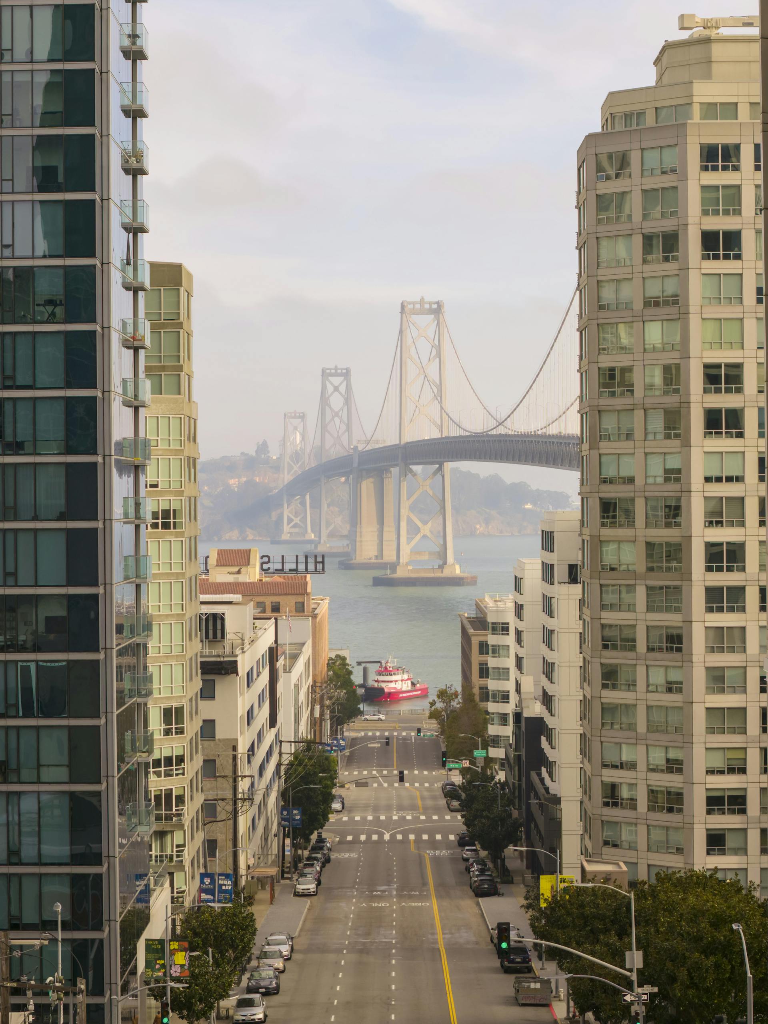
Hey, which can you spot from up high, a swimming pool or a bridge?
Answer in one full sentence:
Visible in the photo is a bridge.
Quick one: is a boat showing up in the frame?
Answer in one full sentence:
Yes, a boat can be made out from above.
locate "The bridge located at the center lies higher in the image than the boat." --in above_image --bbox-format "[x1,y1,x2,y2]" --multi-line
[268,250,605,675]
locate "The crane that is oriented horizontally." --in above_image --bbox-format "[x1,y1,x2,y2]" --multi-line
[680,12,757,34]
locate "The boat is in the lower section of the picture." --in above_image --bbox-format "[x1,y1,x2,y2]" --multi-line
[362,657,434,702]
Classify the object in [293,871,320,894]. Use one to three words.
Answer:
car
